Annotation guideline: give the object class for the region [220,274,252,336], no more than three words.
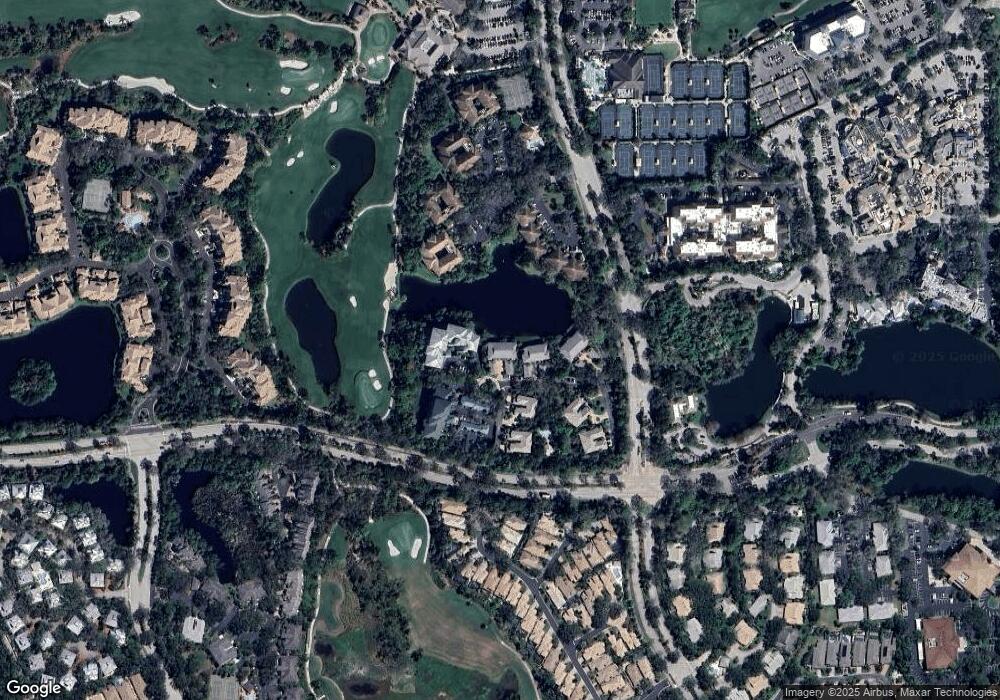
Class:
house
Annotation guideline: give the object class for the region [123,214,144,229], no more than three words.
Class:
swimming pool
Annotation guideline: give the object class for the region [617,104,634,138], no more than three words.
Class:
tennis court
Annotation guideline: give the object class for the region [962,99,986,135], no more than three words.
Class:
building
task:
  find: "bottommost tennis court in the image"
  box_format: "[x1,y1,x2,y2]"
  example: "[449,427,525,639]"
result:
[209,675,241,700]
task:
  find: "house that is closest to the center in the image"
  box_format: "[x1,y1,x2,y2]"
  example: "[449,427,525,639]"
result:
[487,342,517,375]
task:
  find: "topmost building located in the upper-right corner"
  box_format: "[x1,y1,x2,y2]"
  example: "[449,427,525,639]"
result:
[808,13,867,54]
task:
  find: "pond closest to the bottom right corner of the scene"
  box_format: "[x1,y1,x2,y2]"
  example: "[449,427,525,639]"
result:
[884,462,1000,503]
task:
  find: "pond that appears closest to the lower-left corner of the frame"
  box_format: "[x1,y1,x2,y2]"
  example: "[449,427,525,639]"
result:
[59,480,134,548]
